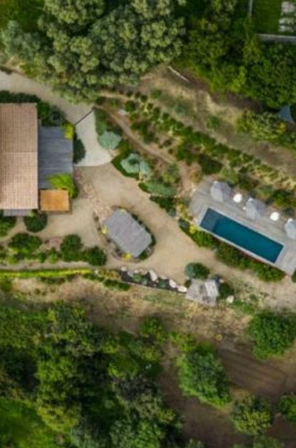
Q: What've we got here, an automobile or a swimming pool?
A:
swimming pool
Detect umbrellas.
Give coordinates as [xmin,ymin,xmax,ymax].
[209,181,230,202]
[281,217,296,238]
[243,198,265,218]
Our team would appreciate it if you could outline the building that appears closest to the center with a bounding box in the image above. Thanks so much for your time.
[103,208,153,259]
